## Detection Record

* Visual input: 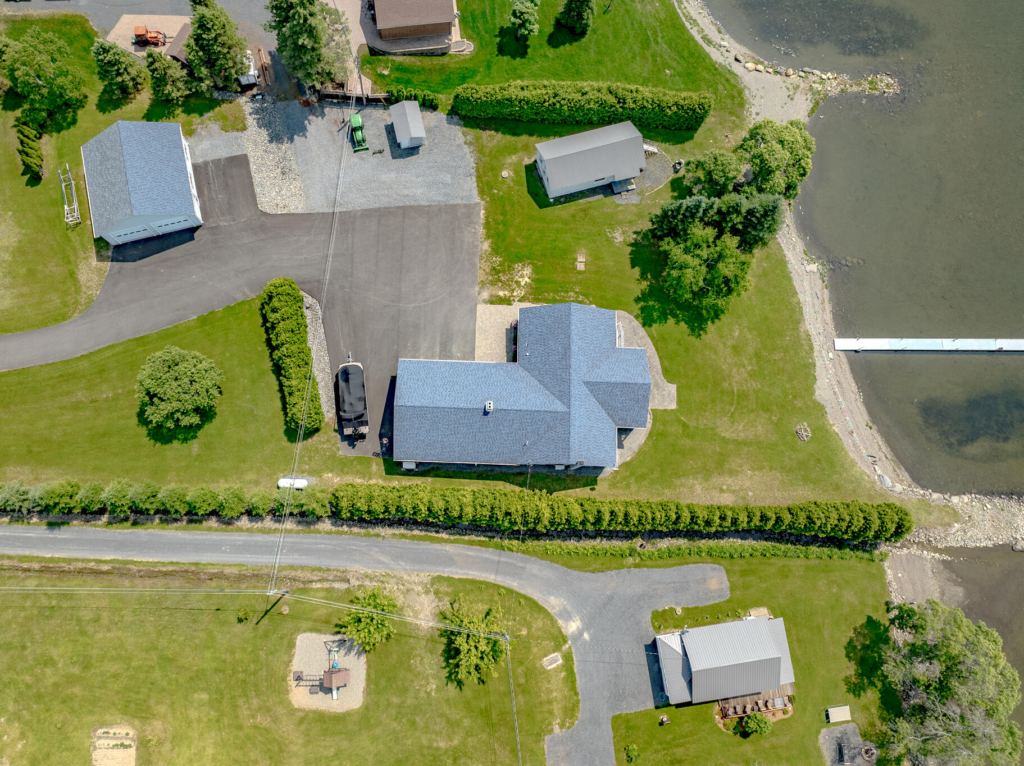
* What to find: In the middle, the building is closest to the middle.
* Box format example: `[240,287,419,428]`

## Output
[393,302,651,474]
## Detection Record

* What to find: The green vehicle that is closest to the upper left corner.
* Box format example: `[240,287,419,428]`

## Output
[352,115,367,152]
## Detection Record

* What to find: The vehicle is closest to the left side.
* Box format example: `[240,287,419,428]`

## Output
[126,22,173,49]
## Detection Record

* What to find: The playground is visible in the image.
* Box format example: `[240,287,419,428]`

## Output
[289,634,366,712]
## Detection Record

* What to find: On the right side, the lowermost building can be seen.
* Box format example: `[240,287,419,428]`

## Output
[653,615,795,705]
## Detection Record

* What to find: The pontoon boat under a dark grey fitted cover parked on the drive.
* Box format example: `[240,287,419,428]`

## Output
[338,364,370,439]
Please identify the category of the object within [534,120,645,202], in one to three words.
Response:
building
